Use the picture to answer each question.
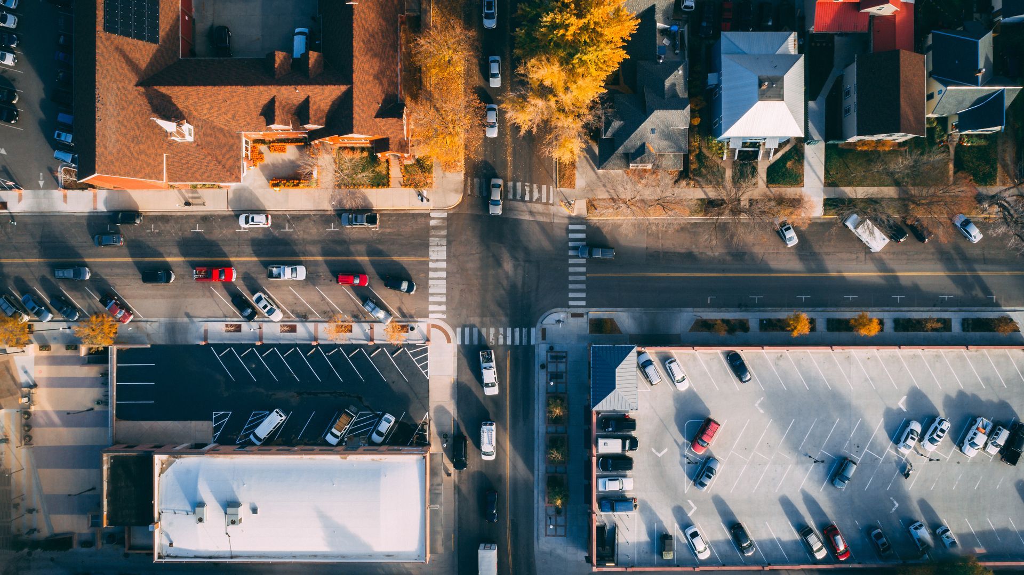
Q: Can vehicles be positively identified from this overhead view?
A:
Yes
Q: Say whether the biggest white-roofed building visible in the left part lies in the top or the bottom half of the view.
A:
bottom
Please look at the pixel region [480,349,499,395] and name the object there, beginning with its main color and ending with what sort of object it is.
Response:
white vehicle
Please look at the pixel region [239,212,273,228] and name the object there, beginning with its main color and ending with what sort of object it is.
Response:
white car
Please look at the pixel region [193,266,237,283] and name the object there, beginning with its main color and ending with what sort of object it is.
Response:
red vehicle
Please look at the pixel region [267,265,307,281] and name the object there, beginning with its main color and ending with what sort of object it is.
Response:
white vehicle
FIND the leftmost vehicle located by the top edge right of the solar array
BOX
[213,24,231,56]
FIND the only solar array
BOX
[105,0,159,44]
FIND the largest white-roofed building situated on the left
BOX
[148,433,444,565]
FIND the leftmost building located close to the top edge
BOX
[76,0,415,187]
